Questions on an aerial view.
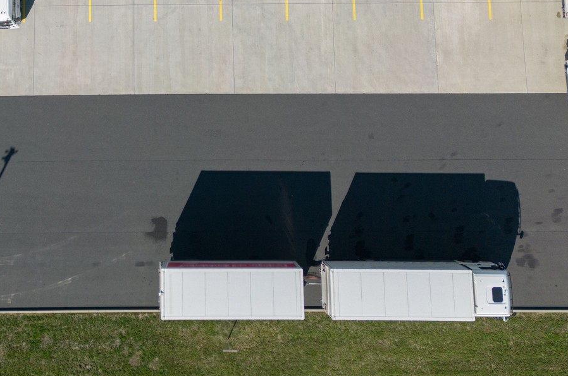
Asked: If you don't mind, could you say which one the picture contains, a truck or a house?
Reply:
truck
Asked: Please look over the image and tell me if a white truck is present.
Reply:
Yes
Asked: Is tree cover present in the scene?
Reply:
No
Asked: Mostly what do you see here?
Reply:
paved ground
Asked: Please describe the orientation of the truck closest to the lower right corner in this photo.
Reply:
from side to side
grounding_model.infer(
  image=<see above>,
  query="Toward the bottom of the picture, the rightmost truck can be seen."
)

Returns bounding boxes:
[319,256,505,320]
